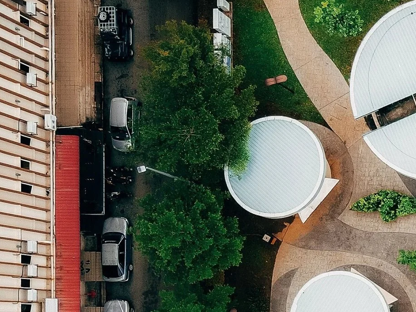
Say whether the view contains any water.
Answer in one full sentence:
No, there is no water in the image.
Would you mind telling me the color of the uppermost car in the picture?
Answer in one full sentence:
From above, the uppermost car appears black.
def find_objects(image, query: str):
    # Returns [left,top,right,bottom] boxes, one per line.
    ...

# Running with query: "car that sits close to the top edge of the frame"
[100,1,139,63]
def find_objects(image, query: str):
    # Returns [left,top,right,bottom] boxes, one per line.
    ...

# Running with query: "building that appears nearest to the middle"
[223,116,340,224]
